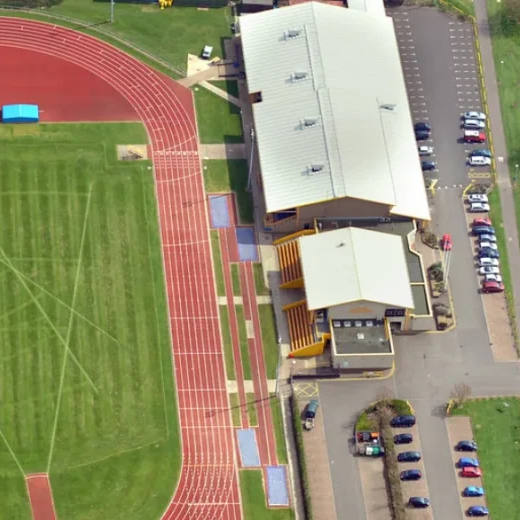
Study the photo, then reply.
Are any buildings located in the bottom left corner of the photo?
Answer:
No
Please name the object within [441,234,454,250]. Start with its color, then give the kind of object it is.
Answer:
red vehicle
